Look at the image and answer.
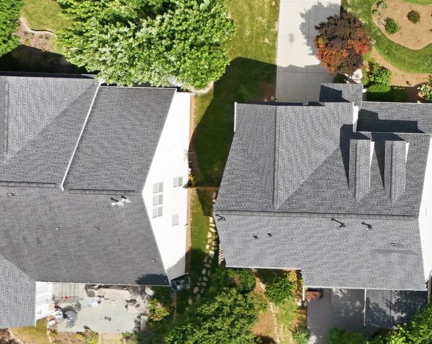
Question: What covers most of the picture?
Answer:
buildings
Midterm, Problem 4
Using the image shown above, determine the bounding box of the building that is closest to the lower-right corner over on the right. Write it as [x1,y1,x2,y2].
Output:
[211,83,432,344]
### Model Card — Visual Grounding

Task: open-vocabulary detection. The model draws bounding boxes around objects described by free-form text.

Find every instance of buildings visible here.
[0,71,186,328]
[211,83,432,344]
